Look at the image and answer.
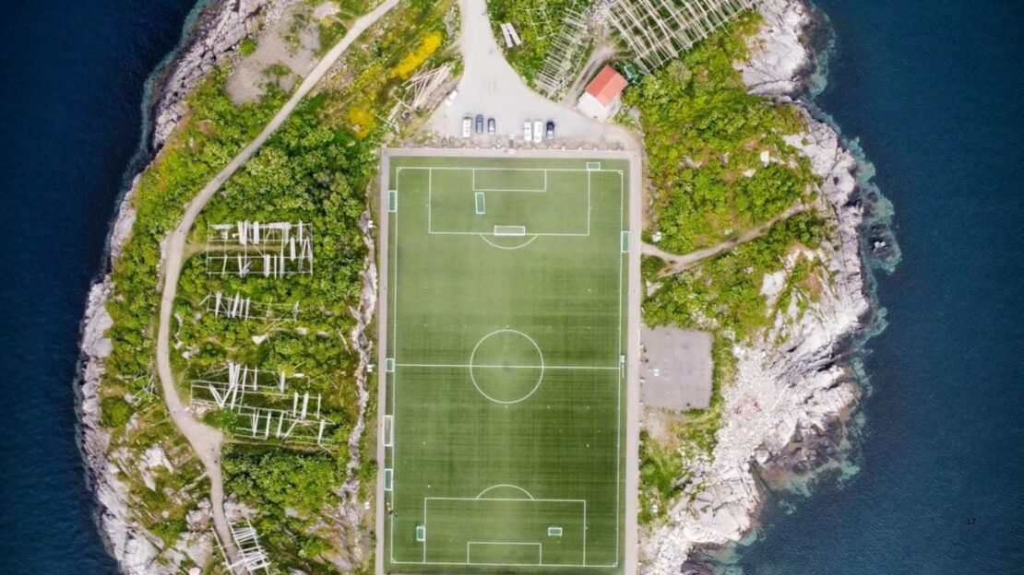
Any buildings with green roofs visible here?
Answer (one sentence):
No, the frame has no building with a green roof in it.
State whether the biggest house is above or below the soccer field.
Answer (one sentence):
In the image, the biggest house sits above the soccer field.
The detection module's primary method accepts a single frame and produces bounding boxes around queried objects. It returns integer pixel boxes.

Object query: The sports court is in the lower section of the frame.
[642,325,712,411]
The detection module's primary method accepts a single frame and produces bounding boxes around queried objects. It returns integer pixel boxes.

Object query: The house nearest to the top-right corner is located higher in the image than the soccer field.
[579,64,627,119]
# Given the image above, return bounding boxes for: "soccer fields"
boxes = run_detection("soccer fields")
[381,154,631,575]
